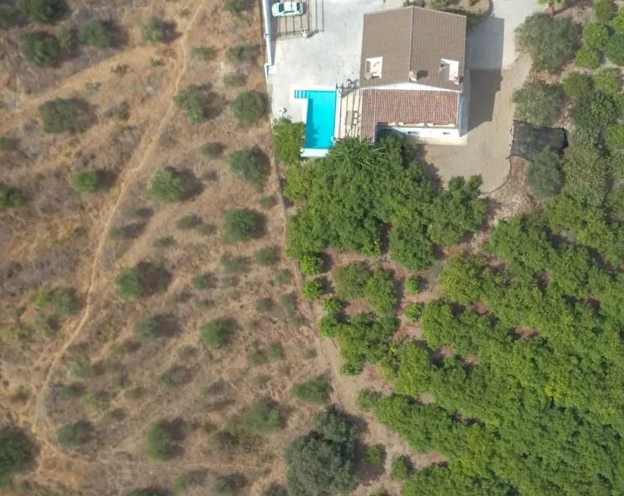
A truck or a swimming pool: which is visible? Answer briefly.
swimming pool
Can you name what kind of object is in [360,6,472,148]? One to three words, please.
house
